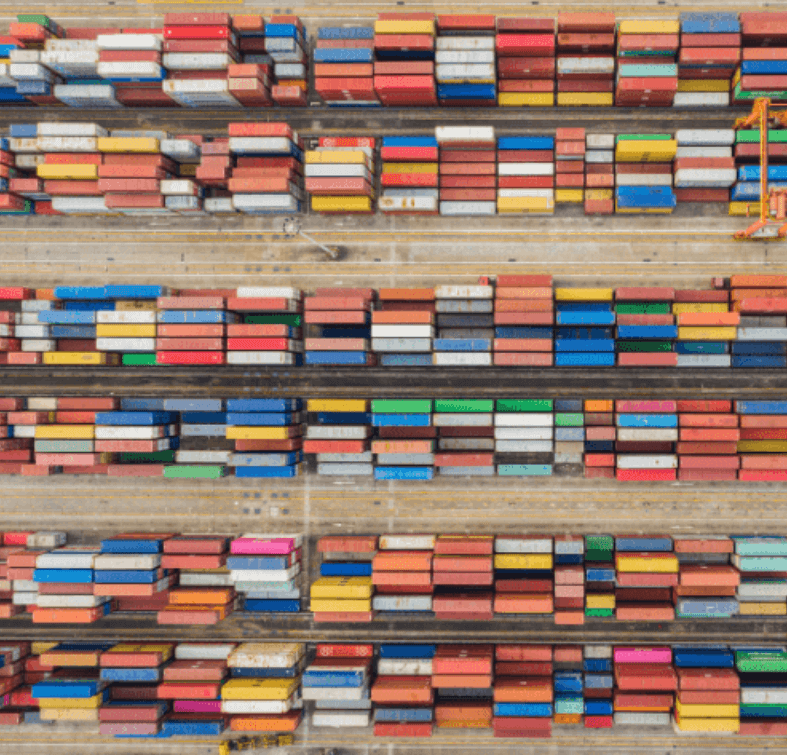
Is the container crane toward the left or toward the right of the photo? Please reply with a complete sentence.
The container crane sits on the right side.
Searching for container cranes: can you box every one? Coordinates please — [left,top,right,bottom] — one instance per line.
[733,93,787,240]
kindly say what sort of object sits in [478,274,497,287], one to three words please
vehicle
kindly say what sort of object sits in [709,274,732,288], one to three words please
vehicle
